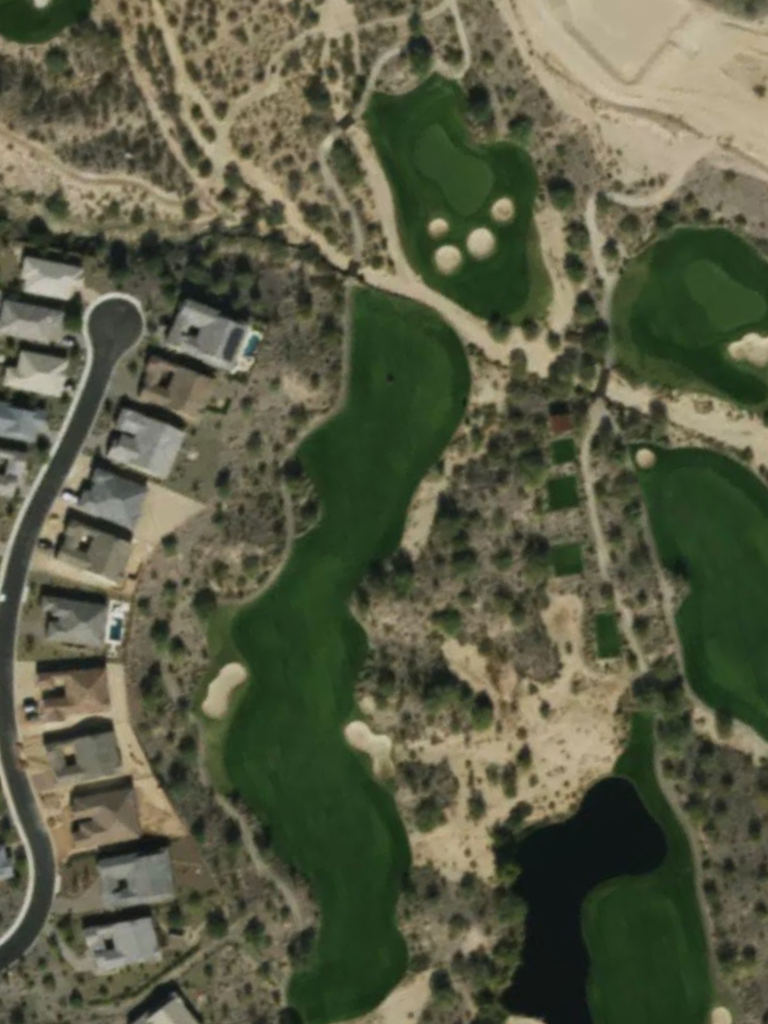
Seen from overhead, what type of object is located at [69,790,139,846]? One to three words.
house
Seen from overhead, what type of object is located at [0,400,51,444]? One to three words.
house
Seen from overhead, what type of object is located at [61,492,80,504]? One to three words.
vehicle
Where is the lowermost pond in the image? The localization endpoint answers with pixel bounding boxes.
[501,779,665,1024]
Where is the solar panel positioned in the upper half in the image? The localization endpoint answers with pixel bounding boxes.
[221,326,245,363]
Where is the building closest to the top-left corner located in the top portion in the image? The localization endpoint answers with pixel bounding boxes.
[20,257,85,299]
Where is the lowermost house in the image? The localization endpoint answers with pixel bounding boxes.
[132,994,195,1024]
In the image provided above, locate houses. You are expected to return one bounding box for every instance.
[97,849,174,907]
[105,409,187,481]
[85,918,160,974]
[0,300,65,344]
[165,298,249,371]
[0,400,51,444]
[132,994,195,1024]
[56,519,132,580]
[20,257,85,299]
[0,454,29,499]
[78,467,149,530]
[4,352,69,396]
[40,597,108,643]
[37,671,111,717]
[69,790,139,846]
[136,355,206,415]
[47,731,122,783]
